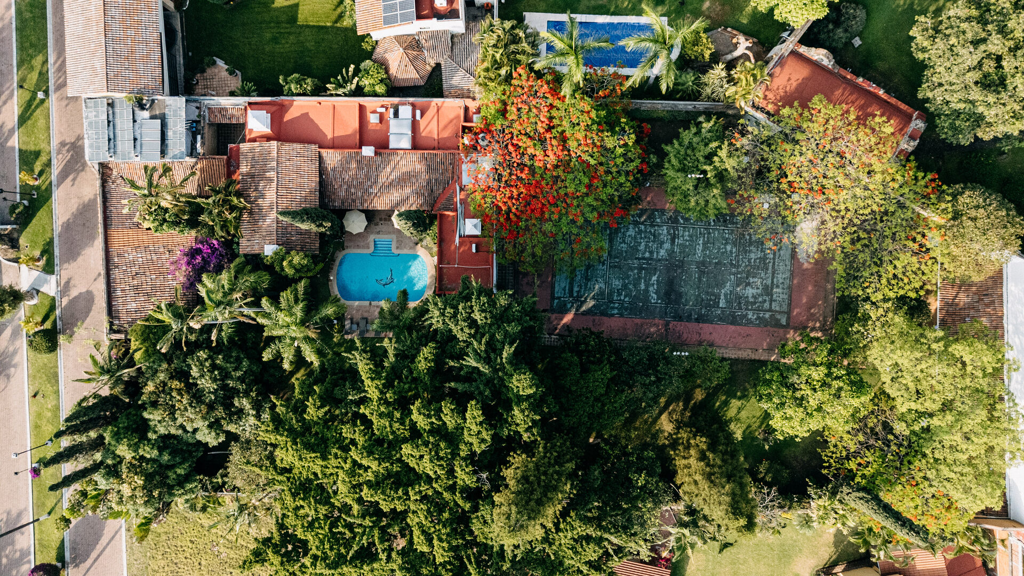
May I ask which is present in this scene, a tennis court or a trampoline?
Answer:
tennis court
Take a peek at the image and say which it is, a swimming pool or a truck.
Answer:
swimming pool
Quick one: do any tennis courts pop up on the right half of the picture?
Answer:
Yes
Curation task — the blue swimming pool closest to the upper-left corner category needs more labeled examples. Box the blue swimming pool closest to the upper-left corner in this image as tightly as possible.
[329,234,436,308]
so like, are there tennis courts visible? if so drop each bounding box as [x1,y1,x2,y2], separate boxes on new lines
[520,184,837,349]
